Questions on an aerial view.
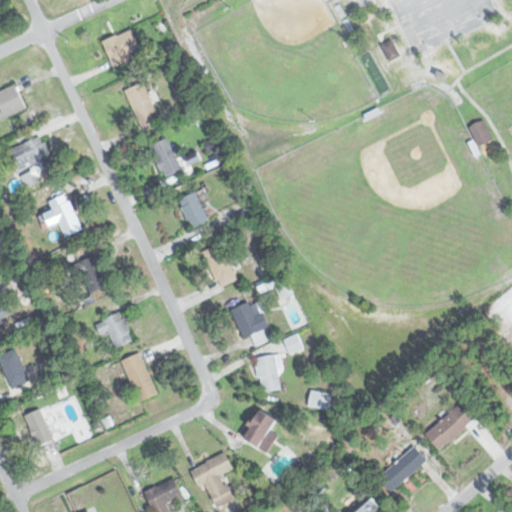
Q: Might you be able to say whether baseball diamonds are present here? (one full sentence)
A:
Yes, you can see a baseball diamond in this photo.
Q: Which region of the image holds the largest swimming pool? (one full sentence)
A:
The largest swimming pool is in the bottom left part of the image.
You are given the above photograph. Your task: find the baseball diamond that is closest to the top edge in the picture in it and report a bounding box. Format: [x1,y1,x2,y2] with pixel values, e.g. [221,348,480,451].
[194,0,378,121]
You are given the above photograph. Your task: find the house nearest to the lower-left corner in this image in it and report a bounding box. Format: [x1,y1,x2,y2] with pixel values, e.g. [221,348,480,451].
[25,410,52,446]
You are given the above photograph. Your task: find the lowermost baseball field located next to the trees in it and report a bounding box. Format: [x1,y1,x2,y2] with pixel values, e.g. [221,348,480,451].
[257,86,512,304]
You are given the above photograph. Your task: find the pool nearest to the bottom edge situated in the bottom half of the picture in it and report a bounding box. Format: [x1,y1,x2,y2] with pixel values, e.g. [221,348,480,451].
[262,448,296,482]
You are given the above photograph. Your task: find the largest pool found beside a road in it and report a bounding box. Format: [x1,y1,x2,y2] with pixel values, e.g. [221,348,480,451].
[39,395,92,444]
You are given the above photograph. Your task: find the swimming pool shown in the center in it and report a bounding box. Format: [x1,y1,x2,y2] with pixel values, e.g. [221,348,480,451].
[278,287,307,330]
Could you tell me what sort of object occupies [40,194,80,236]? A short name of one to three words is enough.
house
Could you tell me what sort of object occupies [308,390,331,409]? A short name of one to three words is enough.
shed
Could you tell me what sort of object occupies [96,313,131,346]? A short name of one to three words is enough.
house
